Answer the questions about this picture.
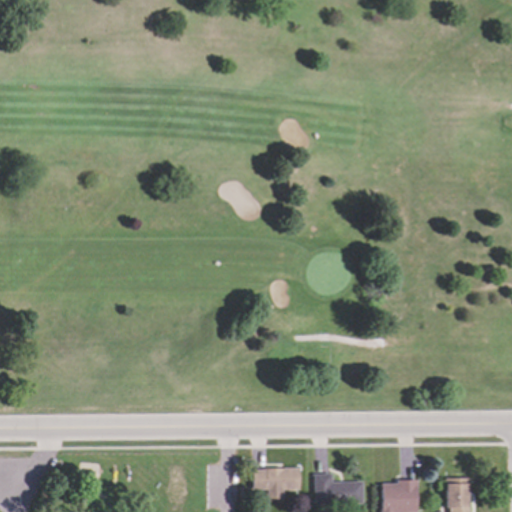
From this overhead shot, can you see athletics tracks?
No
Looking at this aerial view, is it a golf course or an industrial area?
golf course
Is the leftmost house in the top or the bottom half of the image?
bottom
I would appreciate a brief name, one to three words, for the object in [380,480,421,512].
house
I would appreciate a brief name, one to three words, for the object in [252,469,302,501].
house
